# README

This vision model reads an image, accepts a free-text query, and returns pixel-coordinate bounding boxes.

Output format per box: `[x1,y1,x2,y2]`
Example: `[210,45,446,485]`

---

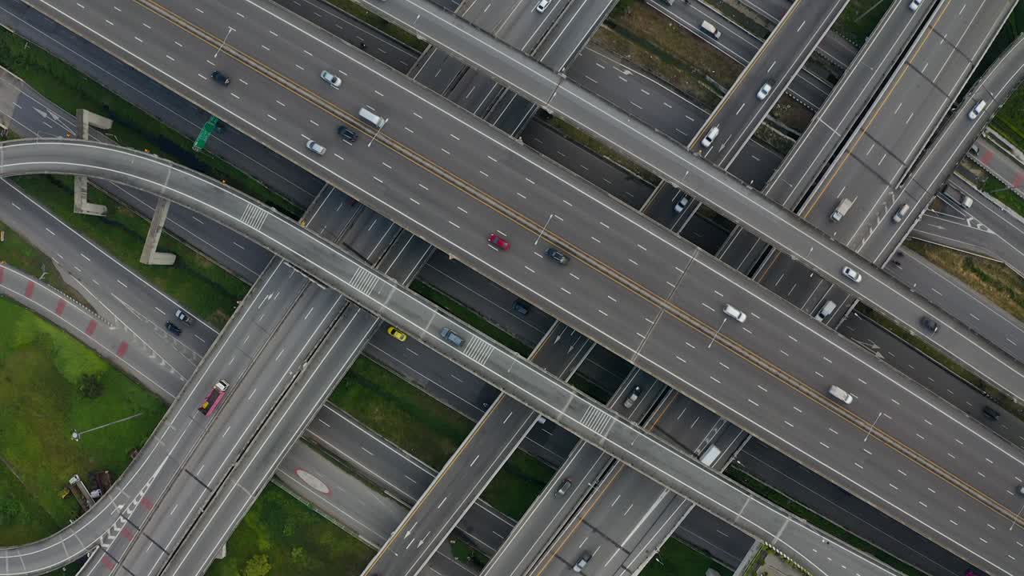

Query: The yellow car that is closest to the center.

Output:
[386,325,407,341]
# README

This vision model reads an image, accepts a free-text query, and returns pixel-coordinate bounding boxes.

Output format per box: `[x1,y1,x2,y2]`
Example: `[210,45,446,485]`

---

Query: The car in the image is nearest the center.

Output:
[511,298,532,315]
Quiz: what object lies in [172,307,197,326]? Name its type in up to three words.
vehicle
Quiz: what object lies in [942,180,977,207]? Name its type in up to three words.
truck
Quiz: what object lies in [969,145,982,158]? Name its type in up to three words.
vehicle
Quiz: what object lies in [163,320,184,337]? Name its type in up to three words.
car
